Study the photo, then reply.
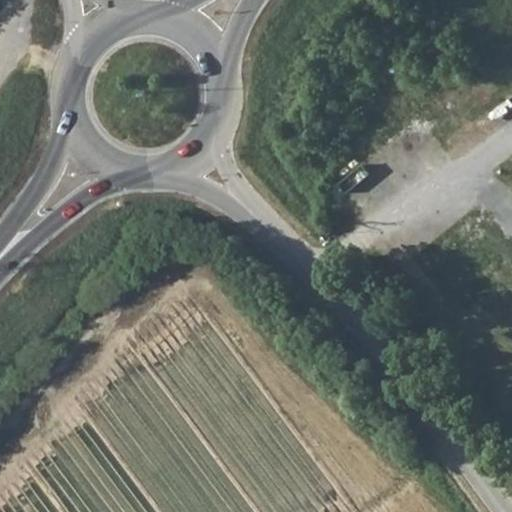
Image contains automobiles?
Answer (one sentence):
Yes, this view includes an automobile.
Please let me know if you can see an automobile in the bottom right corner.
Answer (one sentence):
No, the scene shows no automobile in the bottom right corner.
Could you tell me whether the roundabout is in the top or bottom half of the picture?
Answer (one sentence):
The top half of the photo is where the roundabout is.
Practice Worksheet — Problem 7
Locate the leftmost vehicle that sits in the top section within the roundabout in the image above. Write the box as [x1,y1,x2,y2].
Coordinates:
[57,110,72,134]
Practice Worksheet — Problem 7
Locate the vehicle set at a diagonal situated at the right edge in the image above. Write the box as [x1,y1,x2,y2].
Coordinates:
[488,92,512,118]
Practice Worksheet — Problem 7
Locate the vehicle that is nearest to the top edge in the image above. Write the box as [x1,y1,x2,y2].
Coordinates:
[197,52,210,74]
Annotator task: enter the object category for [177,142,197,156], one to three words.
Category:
car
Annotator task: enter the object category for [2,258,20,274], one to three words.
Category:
car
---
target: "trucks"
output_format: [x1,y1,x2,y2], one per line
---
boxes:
[336,163,370,193]
[488,92,512,118]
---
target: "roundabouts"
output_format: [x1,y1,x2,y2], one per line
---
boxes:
[51,0,242,192]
